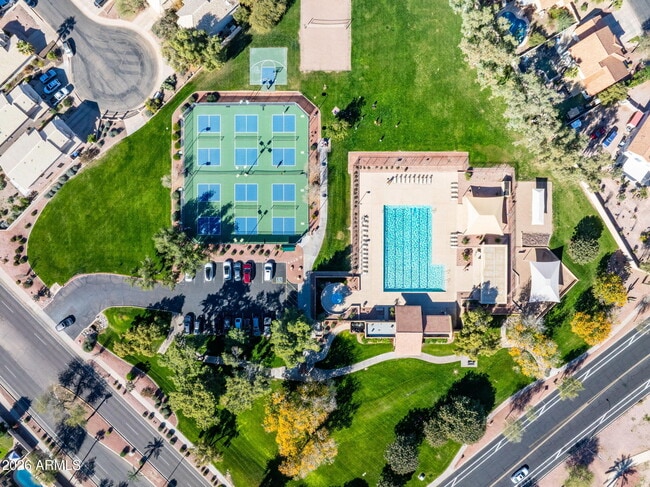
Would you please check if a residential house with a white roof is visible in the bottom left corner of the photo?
No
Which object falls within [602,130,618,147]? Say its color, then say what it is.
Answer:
blue car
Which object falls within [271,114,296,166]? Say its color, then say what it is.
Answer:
blue sports court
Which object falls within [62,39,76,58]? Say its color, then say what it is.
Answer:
white vehicle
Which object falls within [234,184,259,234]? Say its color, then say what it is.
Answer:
blue sports court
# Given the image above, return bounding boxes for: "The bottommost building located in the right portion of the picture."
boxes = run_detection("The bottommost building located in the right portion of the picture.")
[366,305,453,356]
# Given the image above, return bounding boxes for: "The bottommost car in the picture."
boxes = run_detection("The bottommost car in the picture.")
[510,466,529,482]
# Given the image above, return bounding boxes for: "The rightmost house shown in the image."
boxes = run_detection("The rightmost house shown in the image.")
[615,112,650,197]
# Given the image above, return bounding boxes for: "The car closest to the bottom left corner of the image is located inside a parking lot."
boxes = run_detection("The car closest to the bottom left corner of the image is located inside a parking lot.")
[58,316,76,330]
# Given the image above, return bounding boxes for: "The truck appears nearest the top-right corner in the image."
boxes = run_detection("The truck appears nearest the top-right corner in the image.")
[625,108,649,132]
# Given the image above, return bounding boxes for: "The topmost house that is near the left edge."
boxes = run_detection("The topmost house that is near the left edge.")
[0,16,45,90]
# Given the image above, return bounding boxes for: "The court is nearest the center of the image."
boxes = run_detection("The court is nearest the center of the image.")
[271,184,295,234]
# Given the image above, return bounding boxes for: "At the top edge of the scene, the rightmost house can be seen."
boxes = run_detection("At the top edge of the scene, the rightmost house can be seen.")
[564,15,631,98]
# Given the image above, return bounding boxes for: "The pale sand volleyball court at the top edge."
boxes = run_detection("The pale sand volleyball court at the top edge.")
[300,0,352,71]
